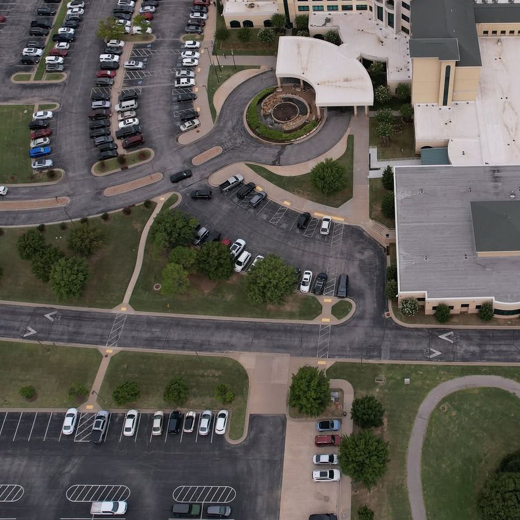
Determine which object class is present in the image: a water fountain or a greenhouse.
water fountain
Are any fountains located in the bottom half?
No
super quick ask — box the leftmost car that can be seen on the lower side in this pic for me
[61,409,79,436]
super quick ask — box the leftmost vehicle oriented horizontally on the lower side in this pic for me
[90,499,127,516]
